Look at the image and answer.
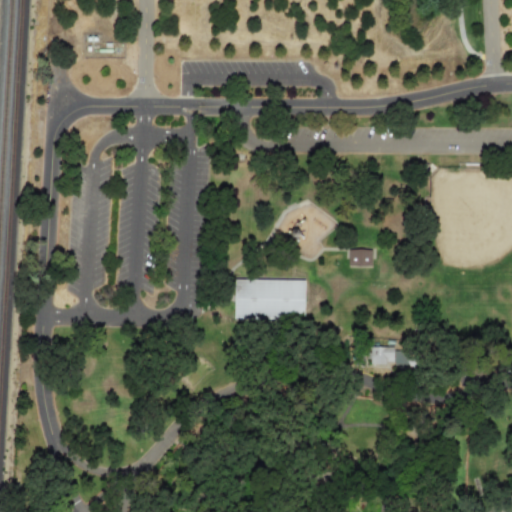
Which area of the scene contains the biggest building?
center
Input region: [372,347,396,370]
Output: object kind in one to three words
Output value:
house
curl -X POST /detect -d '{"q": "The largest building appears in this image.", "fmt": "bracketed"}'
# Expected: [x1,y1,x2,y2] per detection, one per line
[232,280,306,321]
